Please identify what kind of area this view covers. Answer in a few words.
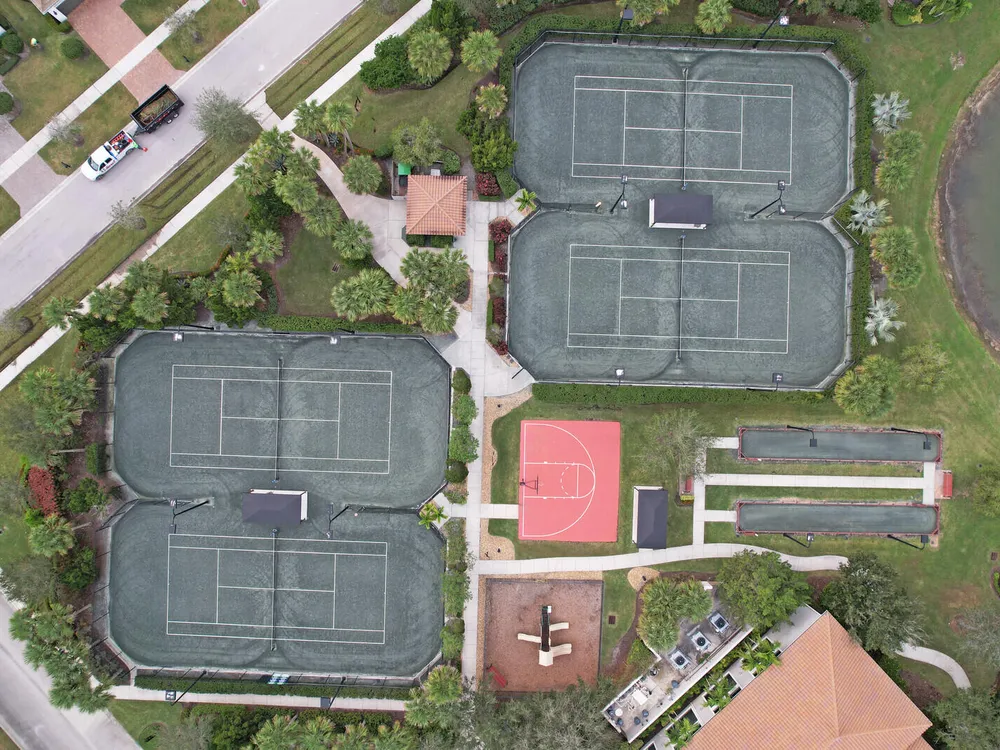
sports ground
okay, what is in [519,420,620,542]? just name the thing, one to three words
basketball court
